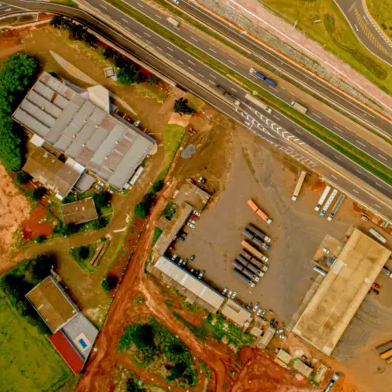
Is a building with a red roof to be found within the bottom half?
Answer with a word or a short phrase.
Yes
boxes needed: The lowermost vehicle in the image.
[323,372,339,392]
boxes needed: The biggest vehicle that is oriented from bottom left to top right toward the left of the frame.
[126,166,148,190]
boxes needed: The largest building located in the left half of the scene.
[12,71,157,192]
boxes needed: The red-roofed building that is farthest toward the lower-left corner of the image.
[50,330,86,375]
